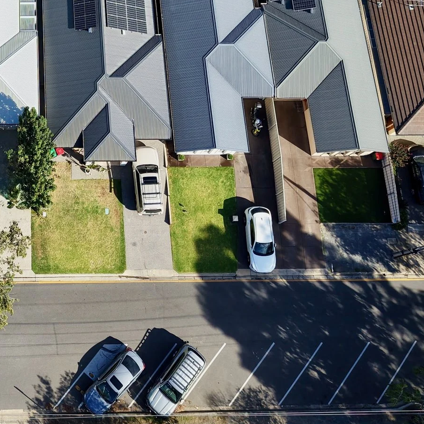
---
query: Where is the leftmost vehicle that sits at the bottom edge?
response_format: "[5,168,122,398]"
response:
[86,344,142,419]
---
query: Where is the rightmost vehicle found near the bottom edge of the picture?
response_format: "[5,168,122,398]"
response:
[148,339,207,423]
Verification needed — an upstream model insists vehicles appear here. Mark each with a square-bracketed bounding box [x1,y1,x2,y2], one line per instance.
[133,146,167,216]
[241,207,280,275]
[401,141,424,208]
[148,339,207,423]
[252,102,268,136]
[86,344,142,419]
